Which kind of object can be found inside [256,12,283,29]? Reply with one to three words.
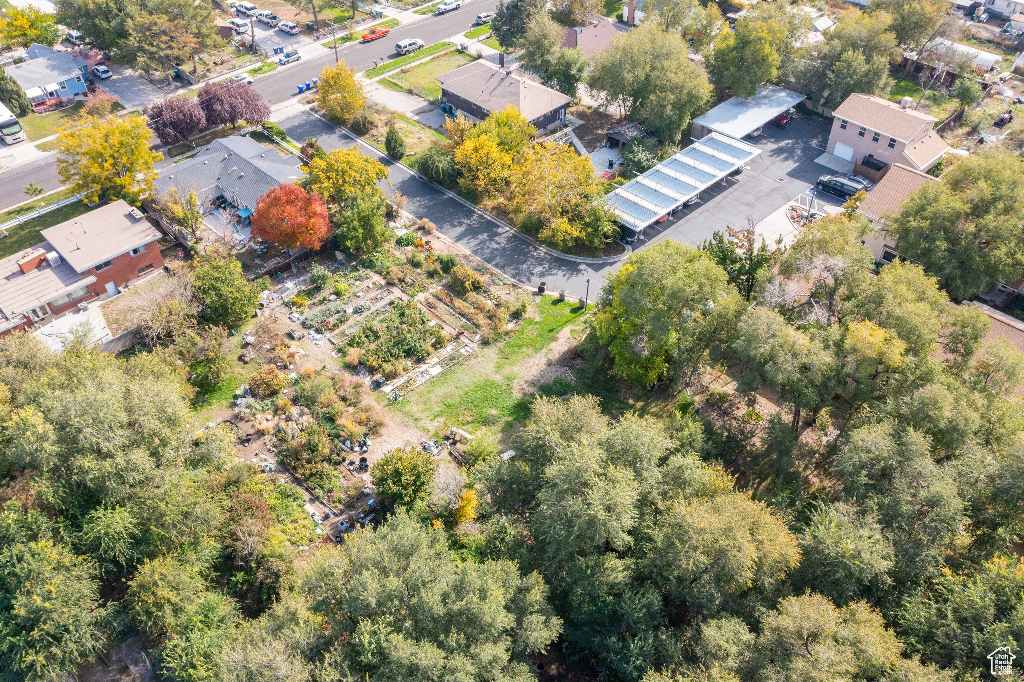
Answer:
vehicle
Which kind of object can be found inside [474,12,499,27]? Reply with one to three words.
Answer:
car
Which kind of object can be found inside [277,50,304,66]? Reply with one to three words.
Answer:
car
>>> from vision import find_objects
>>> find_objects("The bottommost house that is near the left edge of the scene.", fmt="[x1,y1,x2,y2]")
[0,200,166,355]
